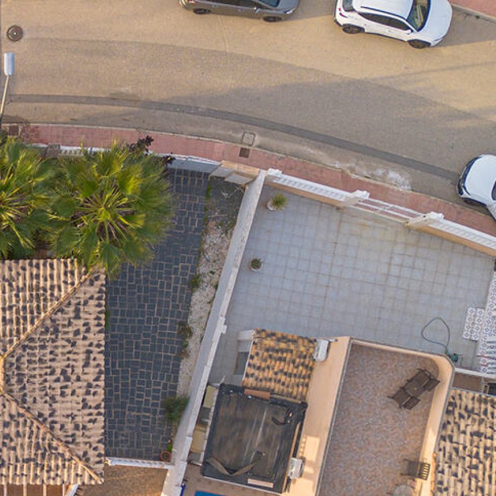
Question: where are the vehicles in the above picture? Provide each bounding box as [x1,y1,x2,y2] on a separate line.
[460,156,496,214]
[340,0,458,49]
[179,0,300,22]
